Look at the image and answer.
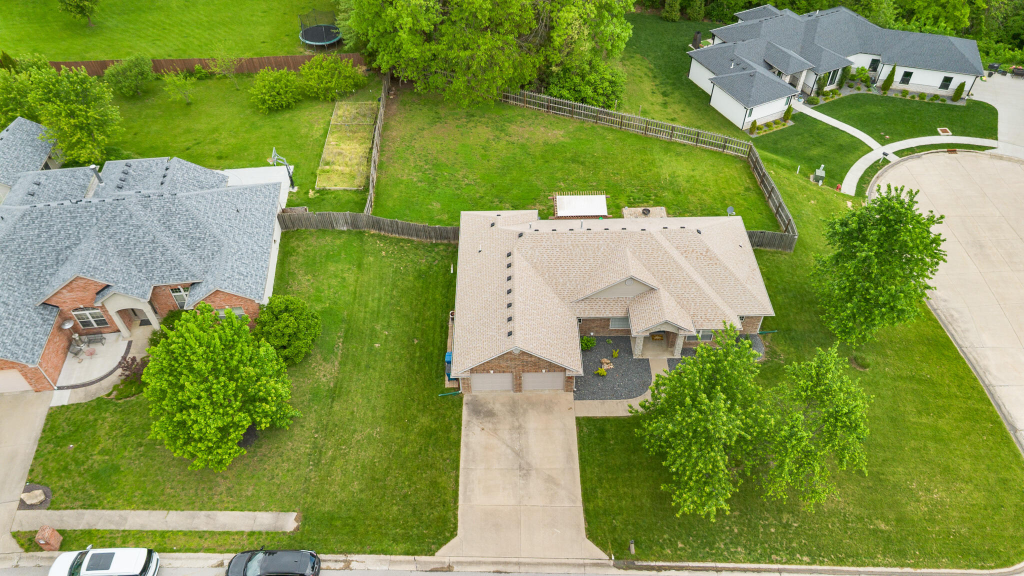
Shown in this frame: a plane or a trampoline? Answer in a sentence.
The image shows a trampoline.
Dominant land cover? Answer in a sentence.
The scene is dominated by grass.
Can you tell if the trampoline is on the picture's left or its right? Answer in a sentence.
It is on the left.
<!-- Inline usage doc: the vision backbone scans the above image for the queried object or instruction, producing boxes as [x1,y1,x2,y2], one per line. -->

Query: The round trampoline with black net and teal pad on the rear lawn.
[293,12,342,53]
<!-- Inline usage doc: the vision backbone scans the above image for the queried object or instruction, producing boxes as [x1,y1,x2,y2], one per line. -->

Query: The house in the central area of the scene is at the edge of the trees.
[448,209,777,397]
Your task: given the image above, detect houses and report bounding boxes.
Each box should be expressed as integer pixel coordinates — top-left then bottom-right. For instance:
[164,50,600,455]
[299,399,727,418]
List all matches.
[448,209,777,397]
[0,117,284,396]
[686,4,986,130]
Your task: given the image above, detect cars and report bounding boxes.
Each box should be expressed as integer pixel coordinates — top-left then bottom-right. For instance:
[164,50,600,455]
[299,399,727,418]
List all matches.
[52,545,161,576]
[226,546,322,576]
